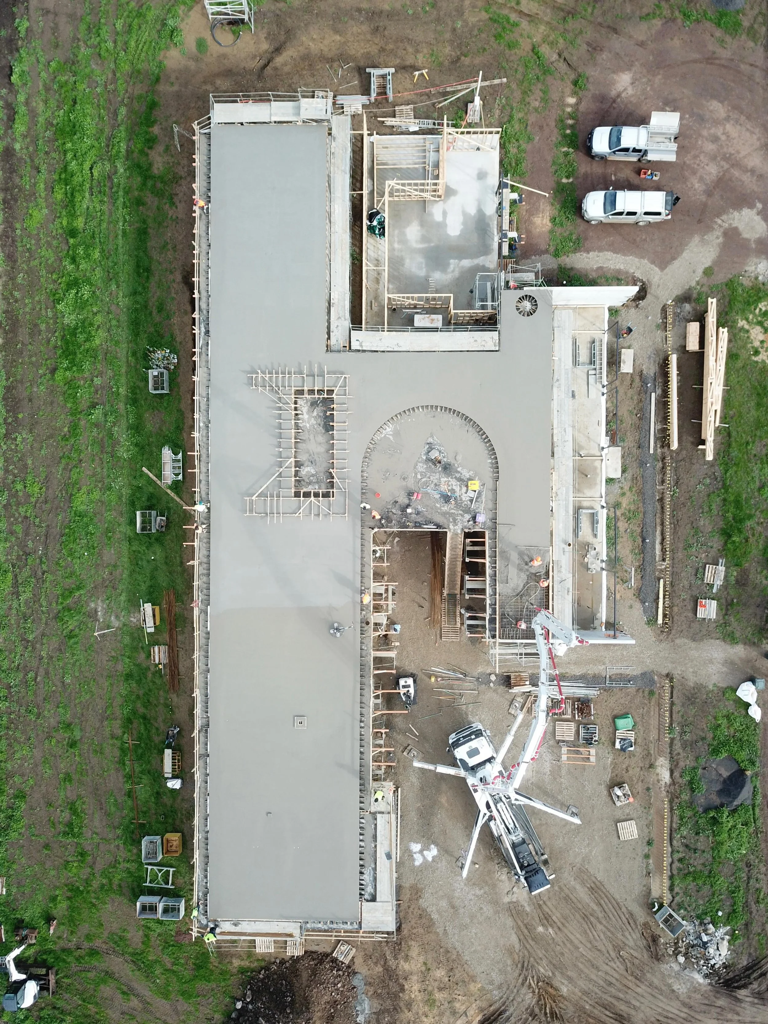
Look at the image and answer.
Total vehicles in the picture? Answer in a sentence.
I count 5 vehicles.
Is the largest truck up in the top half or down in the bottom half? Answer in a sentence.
The largest truck sits in the bottom half of the picture.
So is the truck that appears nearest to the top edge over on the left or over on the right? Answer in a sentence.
You can find the truck that appears nearest to the top edge on the right side of the picture.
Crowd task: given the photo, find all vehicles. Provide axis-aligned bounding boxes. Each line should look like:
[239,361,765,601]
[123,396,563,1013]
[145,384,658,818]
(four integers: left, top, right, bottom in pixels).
[411,600,590,895]
[2,935,57,1010]
[580,183,679,224]
[396,674,417,711]
[585,106,687,161]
